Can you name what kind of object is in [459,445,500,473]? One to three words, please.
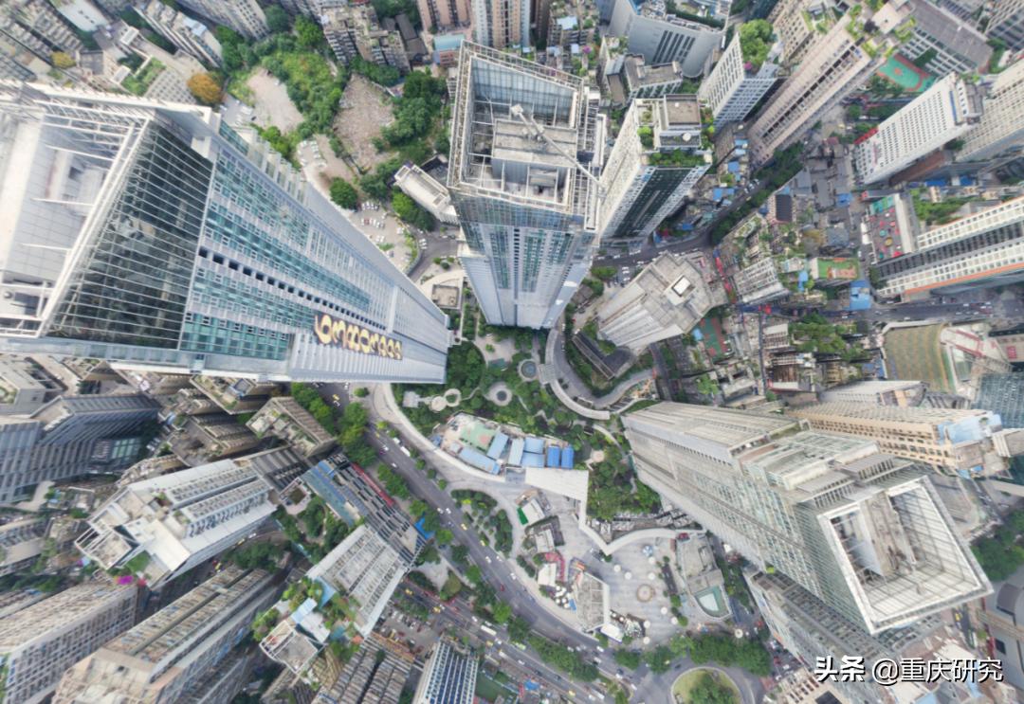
building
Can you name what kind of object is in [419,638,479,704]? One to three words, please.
building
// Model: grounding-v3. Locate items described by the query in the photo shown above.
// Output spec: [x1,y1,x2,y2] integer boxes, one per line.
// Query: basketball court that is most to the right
[877,51,940,93]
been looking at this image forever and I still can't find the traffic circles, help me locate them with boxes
[648,639,769,704]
